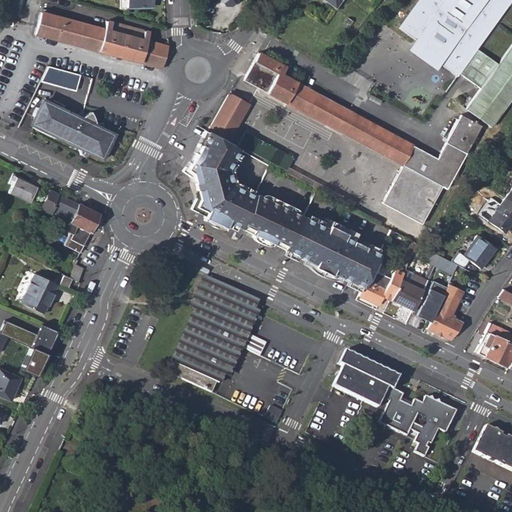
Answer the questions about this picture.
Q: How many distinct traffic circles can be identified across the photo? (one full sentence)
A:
There are 2 traffic circles in the image.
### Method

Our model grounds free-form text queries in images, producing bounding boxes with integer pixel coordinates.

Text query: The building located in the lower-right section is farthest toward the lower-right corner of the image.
[468,424,512,472]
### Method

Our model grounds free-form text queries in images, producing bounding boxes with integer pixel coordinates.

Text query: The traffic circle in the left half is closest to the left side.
[106,178,181,253]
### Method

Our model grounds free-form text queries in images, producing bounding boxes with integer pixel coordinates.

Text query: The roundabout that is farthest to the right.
[166,37,232,103]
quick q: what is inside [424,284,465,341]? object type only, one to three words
house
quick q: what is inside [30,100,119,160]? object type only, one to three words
building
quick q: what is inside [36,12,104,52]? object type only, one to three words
shed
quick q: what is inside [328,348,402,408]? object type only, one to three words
building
